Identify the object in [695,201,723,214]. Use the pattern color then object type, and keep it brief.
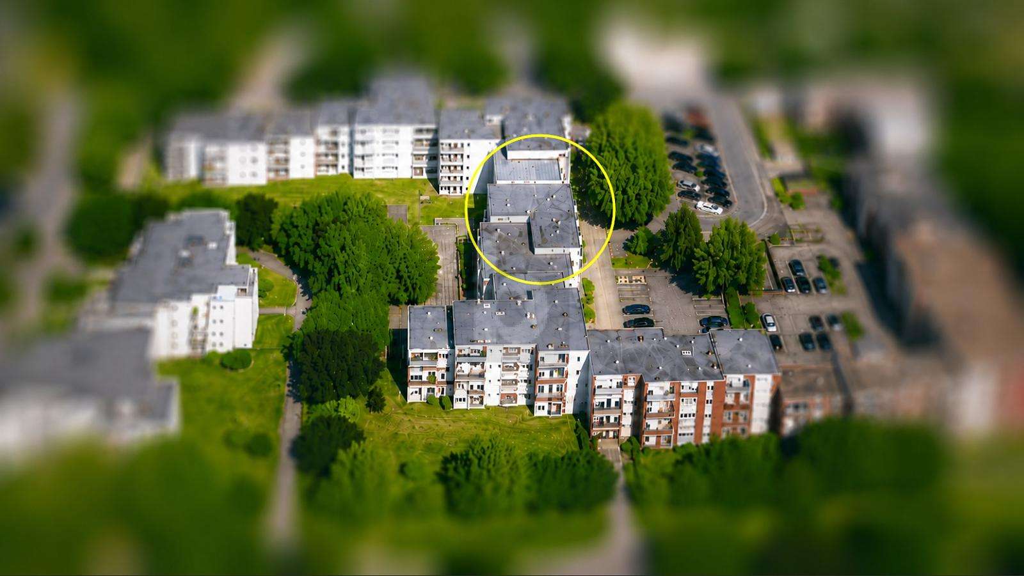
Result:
white vehicle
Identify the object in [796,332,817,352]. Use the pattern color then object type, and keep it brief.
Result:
black car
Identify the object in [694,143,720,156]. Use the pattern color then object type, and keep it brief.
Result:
gray vehicle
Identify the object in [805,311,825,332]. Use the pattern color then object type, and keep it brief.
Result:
black car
